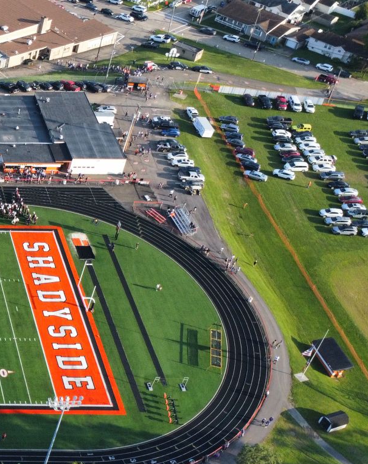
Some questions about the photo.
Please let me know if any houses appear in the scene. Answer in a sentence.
Yes, I can see a house in this picture.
